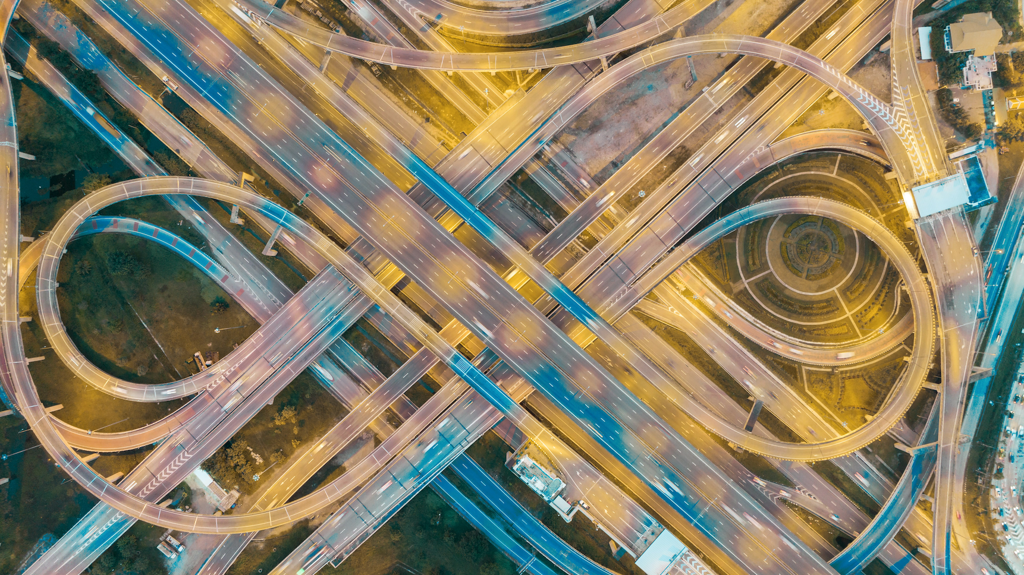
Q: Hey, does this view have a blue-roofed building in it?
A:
Yes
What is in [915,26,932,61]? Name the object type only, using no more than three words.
shed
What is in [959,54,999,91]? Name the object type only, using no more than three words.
building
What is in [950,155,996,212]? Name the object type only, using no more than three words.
building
